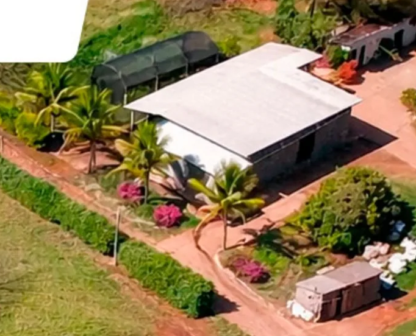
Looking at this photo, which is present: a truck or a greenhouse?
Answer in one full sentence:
Of the two, only a greenhouse appears.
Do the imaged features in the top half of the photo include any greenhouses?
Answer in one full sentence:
Yes, a greenhouse can be seen in the top half of the photo.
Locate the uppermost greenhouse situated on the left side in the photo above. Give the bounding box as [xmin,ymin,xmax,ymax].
[85,22,223,105]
